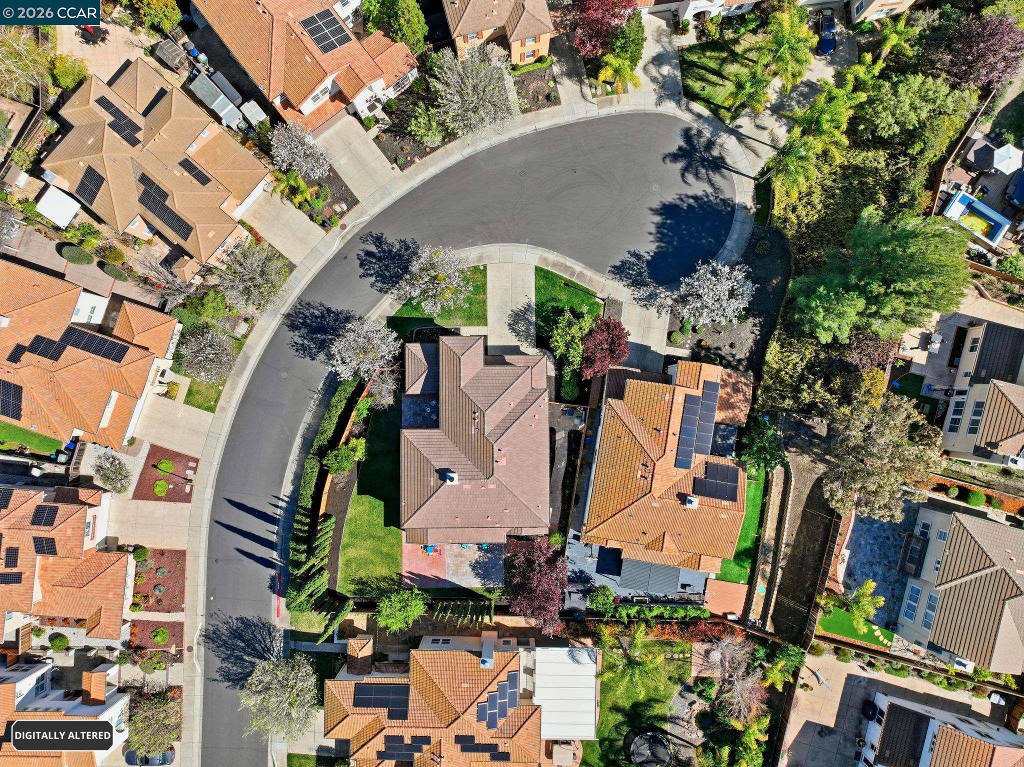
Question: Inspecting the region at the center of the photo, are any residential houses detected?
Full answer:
Yes, a residential house is visible at the center of the photo.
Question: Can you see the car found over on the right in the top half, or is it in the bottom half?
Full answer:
The top half of the photo is where the car found over on the right is.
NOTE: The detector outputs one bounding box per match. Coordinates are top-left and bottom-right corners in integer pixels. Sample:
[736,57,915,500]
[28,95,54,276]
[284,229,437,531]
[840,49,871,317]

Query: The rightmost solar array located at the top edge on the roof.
[300,7,352,53]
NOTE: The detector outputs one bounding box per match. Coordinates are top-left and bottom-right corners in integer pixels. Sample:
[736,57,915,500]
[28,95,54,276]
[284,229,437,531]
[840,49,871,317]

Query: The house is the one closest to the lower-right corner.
[856,692,1024,767]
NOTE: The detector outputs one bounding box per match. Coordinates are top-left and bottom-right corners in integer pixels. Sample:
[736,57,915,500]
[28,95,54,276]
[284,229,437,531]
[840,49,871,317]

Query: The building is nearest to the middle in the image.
[400,334,551,544]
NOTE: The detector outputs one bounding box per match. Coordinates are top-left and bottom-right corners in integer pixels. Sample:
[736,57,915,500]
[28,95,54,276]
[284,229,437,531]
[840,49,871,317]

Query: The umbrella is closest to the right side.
[986,145,1019,176]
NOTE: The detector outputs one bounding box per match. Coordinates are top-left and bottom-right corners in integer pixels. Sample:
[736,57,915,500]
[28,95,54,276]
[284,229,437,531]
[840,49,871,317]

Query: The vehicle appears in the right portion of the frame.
[815,7,840,57]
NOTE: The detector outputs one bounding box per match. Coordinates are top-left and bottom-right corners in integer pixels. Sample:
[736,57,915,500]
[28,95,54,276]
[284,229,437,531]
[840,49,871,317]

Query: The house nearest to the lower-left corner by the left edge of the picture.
[0,659,131,767]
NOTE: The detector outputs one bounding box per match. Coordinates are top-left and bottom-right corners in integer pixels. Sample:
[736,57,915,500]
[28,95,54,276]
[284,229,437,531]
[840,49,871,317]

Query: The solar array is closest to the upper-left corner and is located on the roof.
[94,94,142,146]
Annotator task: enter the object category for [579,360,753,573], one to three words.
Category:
house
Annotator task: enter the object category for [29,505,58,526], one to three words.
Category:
solar array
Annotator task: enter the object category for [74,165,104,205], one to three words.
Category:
solar array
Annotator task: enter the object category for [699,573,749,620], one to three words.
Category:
gazebo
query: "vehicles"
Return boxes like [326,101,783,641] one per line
[815,7,840,57]
[127,743,175,767]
